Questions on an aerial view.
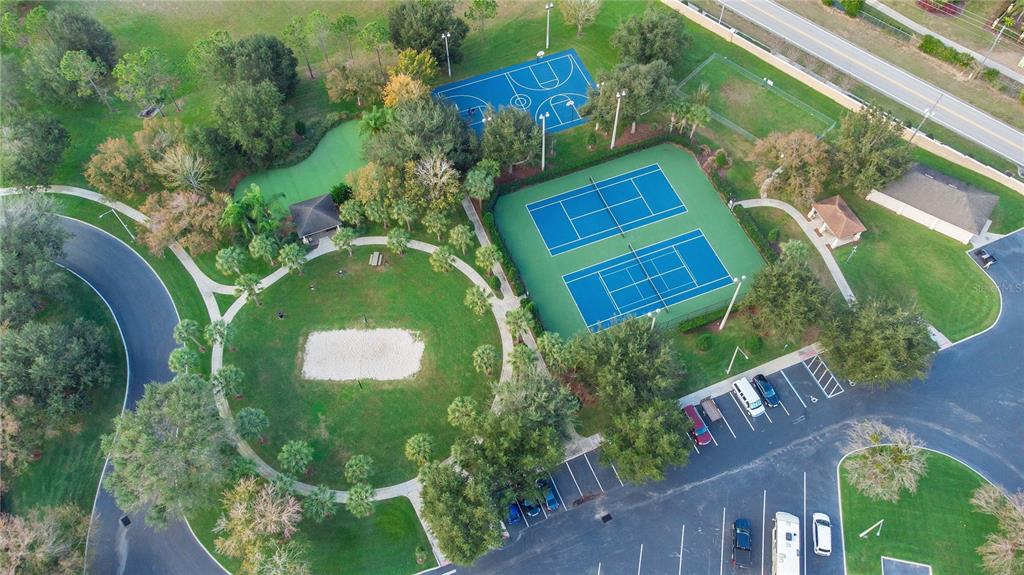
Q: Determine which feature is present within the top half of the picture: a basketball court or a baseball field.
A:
basketball court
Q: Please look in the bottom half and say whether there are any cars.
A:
Yes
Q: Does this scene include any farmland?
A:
No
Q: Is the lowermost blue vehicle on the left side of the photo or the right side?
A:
right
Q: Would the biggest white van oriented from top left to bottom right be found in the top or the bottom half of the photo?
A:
bottom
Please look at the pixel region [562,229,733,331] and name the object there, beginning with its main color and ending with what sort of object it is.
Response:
blue tennis court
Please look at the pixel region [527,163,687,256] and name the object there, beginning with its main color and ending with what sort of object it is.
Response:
blue tennis court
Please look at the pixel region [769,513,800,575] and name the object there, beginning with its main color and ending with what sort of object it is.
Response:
white camper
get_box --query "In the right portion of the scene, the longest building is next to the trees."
[863,160,996,248]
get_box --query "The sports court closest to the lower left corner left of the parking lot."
[301,315,424,389]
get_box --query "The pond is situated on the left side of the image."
[235,121,370,208]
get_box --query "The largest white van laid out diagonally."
[732,375,765,418]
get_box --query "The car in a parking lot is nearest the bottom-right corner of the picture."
[813,514,833,556]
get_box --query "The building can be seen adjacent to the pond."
[288,192,343,247]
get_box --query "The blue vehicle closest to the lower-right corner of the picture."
[733,518,753,570]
